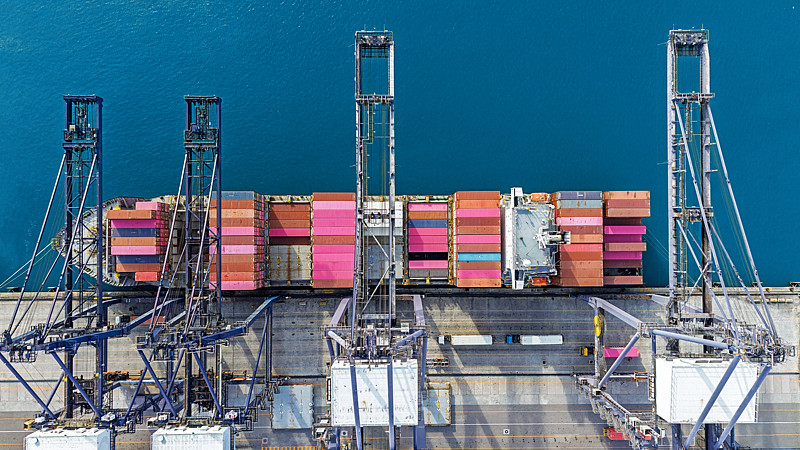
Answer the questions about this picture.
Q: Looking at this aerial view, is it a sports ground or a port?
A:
port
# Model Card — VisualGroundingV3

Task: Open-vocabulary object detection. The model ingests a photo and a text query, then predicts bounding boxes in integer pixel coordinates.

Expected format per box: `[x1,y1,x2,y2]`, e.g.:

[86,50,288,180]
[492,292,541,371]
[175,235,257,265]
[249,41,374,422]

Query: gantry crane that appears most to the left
[0,85,198,450]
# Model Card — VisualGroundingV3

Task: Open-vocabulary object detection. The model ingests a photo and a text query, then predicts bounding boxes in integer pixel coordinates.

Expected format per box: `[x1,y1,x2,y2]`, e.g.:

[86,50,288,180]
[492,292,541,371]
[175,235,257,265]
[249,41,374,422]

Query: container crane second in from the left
[136,85,291,450]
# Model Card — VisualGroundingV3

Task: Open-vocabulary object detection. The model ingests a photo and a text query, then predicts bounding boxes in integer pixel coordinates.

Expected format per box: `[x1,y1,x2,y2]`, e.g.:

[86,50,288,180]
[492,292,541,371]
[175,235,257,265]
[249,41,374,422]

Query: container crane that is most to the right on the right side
[573,19,800,450]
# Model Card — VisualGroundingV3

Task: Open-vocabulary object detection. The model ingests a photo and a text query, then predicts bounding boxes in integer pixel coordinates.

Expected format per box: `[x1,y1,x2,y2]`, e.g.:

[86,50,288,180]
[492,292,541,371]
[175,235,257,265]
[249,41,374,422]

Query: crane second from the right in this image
[318,19,430,450]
